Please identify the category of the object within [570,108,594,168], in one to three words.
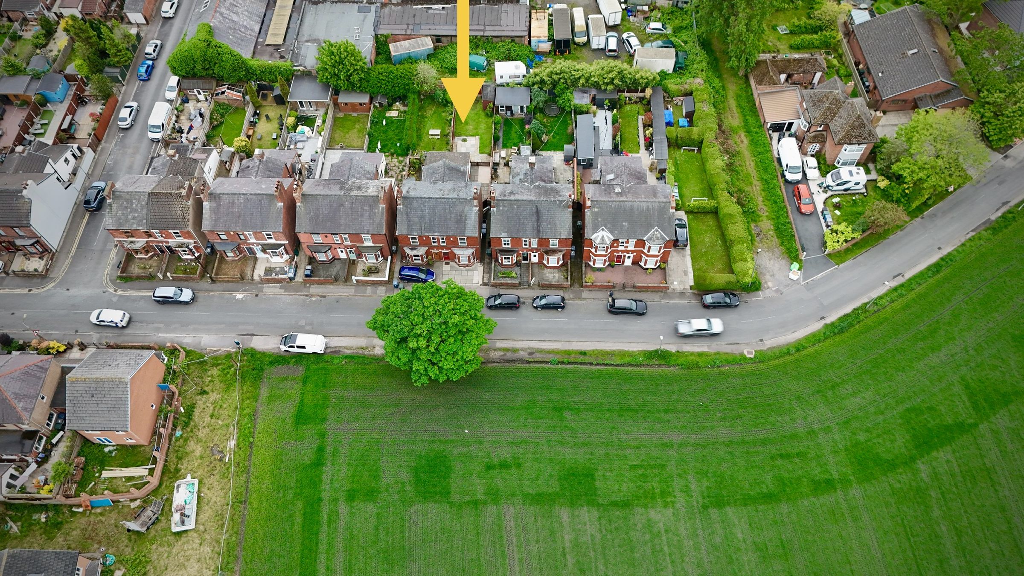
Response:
shed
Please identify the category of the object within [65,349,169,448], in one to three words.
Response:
house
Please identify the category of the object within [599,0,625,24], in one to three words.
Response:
truck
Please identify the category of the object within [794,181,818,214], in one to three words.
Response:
car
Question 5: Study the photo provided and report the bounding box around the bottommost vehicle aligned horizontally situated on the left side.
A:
[275,329,328,354]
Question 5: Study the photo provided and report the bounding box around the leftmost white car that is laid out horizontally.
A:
[83,306,131,327]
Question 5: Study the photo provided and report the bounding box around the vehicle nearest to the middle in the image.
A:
[485,290,521,310]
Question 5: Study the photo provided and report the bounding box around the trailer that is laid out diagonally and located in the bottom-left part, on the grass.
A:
[118,485,167,539]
